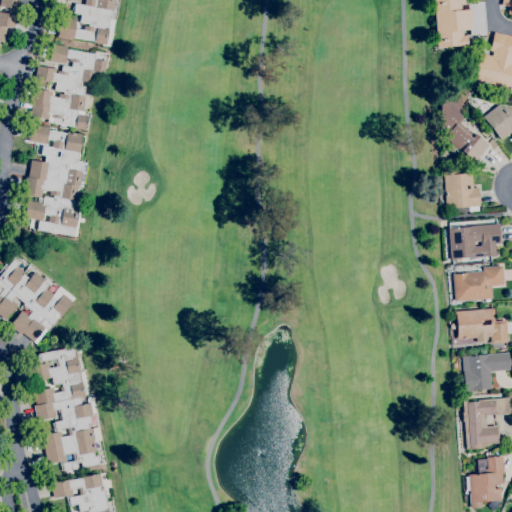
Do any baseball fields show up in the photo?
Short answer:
No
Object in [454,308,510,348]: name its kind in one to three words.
house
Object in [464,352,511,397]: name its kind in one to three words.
house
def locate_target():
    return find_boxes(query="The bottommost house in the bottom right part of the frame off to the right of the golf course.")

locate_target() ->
[466,456,505,506]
